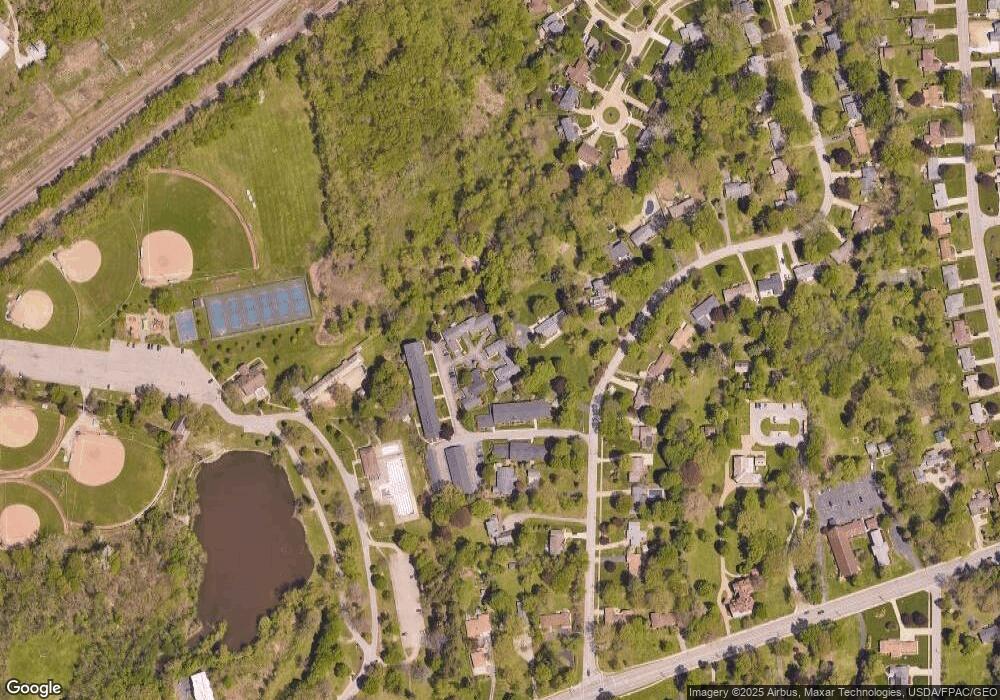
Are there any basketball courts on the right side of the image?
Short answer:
No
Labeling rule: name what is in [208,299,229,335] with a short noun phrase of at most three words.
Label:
tennis court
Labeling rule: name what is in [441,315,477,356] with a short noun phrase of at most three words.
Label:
building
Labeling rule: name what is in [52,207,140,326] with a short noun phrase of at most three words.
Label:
baseball field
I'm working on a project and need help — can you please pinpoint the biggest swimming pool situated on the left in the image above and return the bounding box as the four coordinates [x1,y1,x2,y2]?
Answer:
[369,440,421,523]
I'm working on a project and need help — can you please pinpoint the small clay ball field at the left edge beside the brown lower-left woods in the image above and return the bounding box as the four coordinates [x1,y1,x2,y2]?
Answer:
[0,479,66,549]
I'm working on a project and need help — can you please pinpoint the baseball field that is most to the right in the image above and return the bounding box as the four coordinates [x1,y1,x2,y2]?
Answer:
[140,168,257,288]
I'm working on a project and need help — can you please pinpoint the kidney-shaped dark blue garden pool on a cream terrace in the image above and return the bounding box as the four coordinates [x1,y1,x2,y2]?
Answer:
[642,191,662,217]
